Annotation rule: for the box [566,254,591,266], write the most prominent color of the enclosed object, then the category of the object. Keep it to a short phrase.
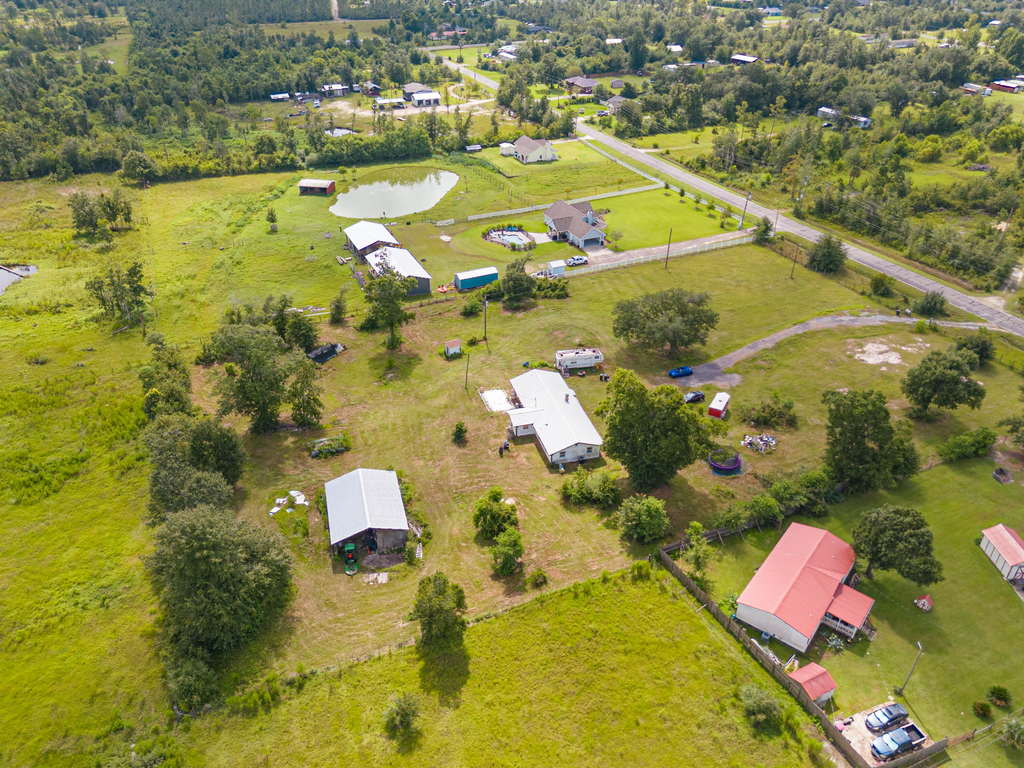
white vehicle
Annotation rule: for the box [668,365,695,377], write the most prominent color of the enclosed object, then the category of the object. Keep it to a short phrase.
blue vehicle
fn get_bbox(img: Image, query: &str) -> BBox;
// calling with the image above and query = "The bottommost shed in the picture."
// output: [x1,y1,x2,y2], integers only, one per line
[788,662,837,708]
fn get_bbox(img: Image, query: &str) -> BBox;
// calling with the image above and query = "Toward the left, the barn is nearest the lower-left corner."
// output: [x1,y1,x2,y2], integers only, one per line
[325,471,409,558]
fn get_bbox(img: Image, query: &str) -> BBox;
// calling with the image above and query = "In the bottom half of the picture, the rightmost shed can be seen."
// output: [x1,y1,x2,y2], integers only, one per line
[979,527,1024,586]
